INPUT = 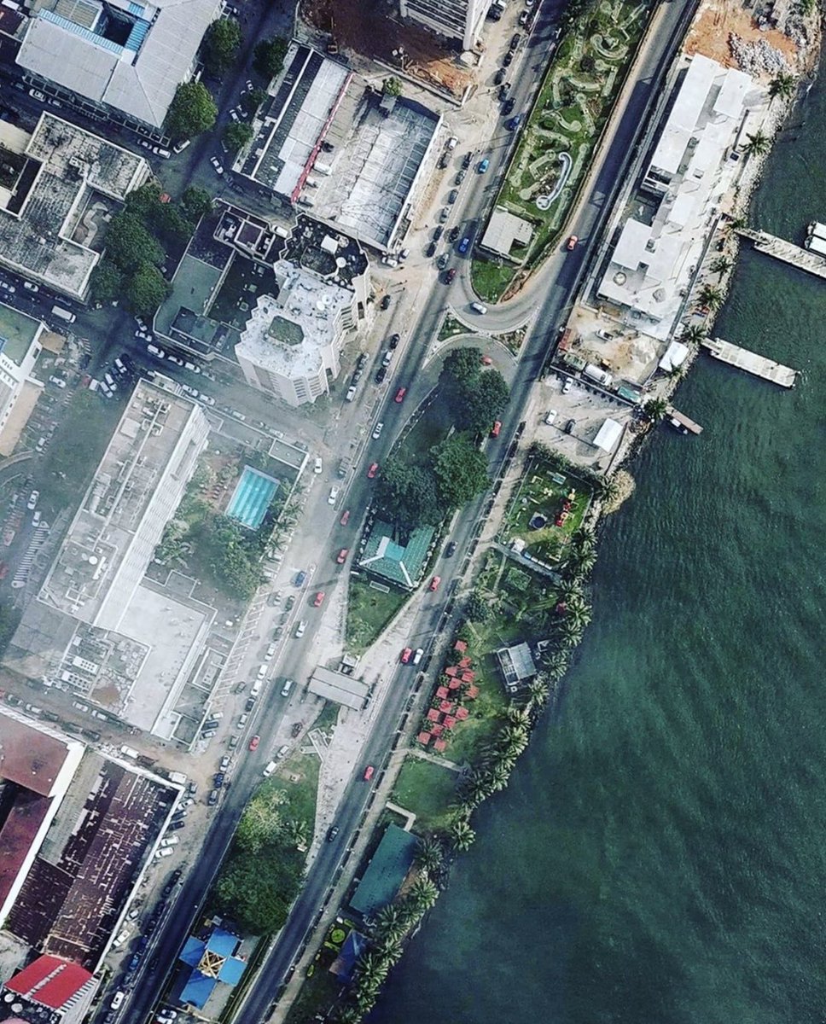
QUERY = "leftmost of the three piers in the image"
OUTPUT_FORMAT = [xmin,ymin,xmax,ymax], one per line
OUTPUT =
[664,402,704,437]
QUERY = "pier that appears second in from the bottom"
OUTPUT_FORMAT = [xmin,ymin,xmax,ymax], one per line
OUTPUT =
[700,333,803,390]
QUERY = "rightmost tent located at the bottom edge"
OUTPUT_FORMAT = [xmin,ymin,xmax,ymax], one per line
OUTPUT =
[329,926,369,984]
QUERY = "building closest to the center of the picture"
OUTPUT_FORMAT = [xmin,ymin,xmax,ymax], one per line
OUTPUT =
[358,519,436,589]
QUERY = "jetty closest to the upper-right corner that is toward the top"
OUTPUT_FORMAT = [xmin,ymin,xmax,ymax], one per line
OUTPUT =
[734,227,826,282]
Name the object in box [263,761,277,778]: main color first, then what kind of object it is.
white vehicle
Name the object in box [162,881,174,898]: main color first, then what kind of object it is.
black vehicle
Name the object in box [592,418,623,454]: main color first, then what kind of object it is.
white tent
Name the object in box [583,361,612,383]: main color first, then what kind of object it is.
white truck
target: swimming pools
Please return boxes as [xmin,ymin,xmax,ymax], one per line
[224,461,282,534]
